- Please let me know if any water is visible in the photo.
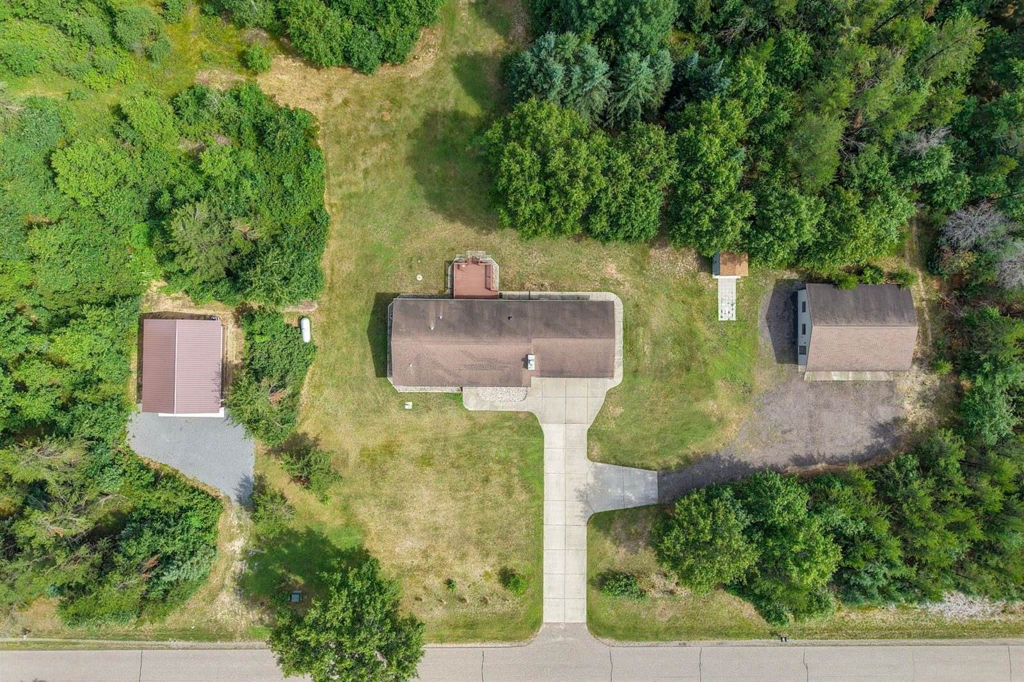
No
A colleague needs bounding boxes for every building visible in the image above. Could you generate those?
[142,319,231,414]
[390,298,617,388]
[713,250,748,278]
[798,284,920,371]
